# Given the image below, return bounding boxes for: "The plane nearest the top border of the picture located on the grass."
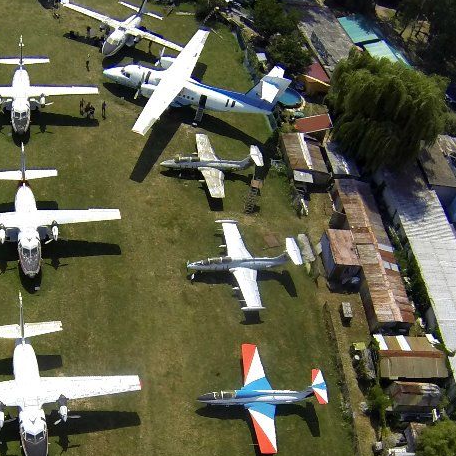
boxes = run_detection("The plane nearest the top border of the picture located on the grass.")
[60,0,187,59]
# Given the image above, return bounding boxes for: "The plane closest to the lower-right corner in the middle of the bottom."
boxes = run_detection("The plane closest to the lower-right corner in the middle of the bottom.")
[197,345,330,454]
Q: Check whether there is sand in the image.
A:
No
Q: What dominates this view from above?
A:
grass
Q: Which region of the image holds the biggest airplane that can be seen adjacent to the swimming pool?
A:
top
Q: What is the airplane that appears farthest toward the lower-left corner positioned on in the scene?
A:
grass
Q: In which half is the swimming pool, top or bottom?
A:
top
